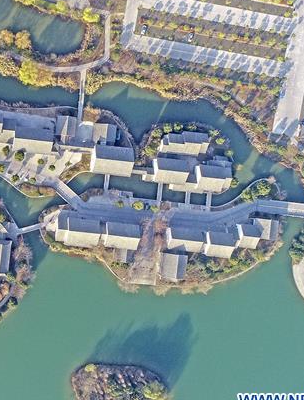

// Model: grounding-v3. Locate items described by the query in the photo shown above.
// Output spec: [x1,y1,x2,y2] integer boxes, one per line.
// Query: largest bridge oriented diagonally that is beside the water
[46,172,90,216]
